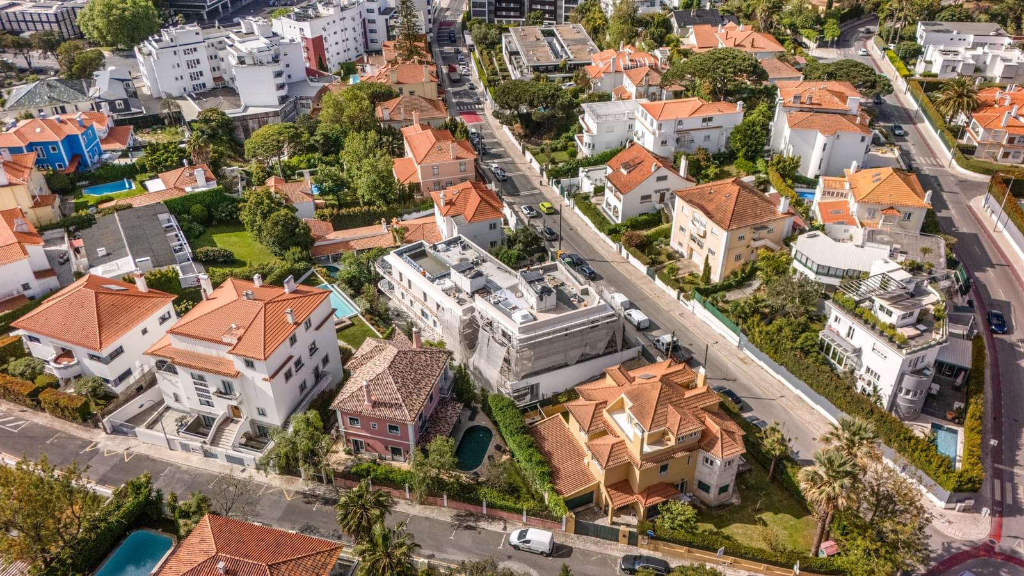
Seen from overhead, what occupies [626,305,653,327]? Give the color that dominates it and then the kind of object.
white vehicle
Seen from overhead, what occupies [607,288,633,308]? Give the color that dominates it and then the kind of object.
white vehicle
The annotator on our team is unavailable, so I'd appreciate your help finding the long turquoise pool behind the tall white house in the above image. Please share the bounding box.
[313,281,364,322]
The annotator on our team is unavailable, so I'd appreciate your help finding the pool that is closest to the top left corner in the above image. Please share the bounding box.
[81,177,137,197]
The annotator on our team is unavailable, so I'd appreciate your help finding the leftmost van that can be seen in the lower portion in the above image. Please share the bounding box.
[509,523,556,552]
